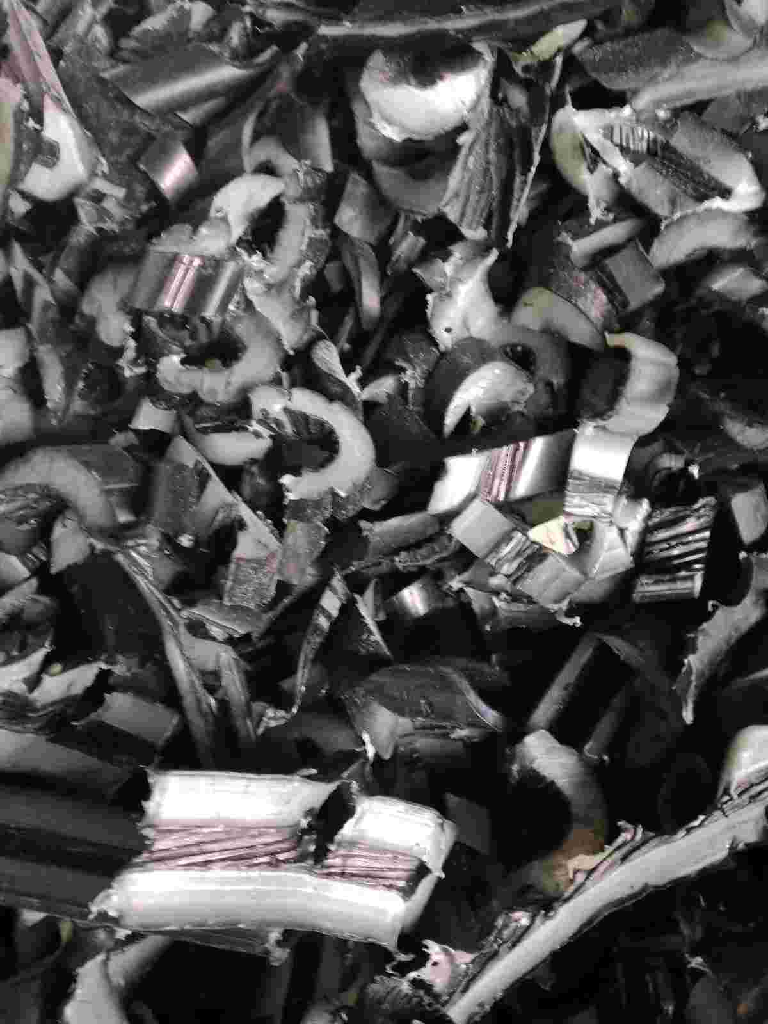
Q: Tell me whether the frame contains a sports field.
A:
No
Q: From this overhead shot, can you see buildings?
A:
No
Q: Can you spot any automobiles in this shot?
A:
No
